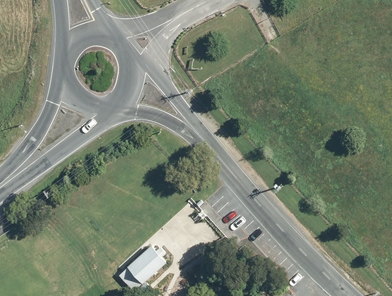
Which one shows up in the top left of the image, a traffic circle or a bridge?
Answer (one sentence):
Looking in the top left of the image, you will find a traffic circle.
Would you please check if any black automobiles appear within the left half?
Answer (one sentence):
No, no black automobile appears within the left half.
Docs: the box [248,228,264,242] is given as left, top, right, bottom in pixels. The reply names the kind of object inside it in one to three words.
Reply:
car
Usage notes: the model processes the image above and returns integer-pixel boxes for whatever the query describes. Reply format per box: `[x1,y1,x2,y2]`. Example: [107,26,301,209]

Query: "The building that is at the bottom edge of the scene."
[119,246,166,290]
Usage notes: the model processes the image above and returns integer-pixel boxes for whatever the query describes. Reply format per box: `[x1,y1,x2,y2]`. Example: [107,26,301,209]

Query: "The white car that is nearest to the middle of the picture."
[230,216,247,232]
